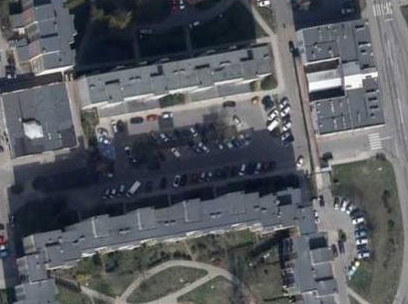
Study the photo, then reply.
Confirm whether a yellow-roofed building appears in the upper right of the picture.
No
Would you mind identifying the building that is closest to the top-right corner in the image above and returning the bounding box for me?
[296,16,385,136]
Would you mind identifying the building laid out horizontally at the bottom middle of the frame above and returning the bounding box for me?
[21,189,305,272]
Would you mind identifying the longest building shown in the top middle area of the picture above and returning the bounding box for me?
[79,44,275,113]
